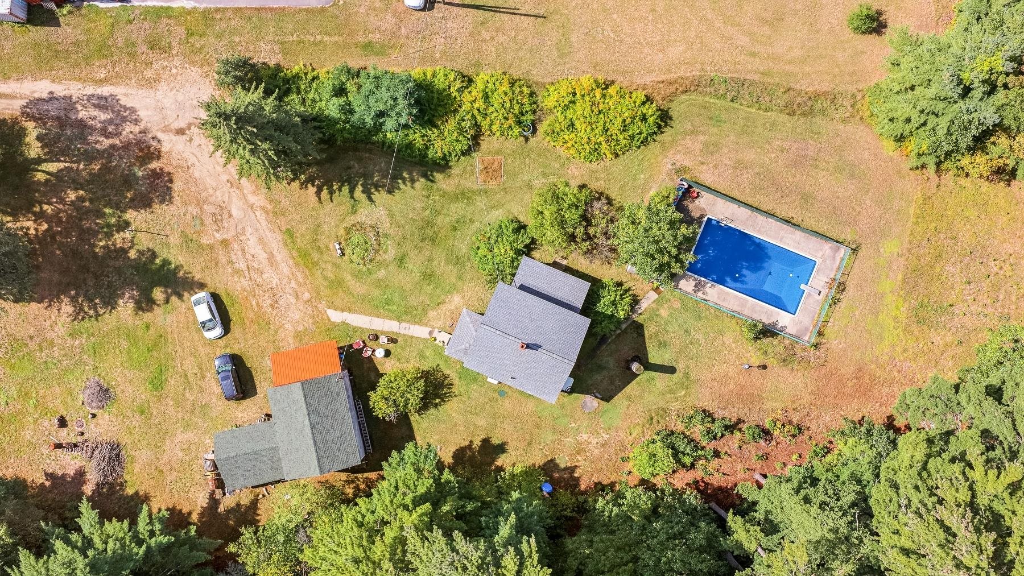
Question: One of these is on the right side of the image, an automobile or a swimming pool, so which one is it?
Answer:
swimming pool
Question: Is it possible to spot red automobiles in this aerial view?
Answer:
No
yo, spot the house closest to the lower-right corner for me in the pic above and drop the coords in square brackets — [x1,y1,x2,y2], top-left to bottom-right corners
[444,255,591,401]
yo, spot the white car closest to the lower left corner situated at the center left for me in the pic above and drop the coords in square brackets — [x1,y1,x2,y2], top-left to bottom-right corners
[192,292,225,341]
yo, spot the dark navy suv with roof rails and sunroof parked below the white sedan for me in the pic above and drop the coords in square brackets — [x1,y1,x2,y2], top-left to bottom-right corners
[217,351,248,400]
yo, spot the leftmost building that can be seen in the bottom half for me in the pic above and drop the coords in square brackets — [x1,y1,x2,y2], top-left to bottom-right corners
[215,341,367,490]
